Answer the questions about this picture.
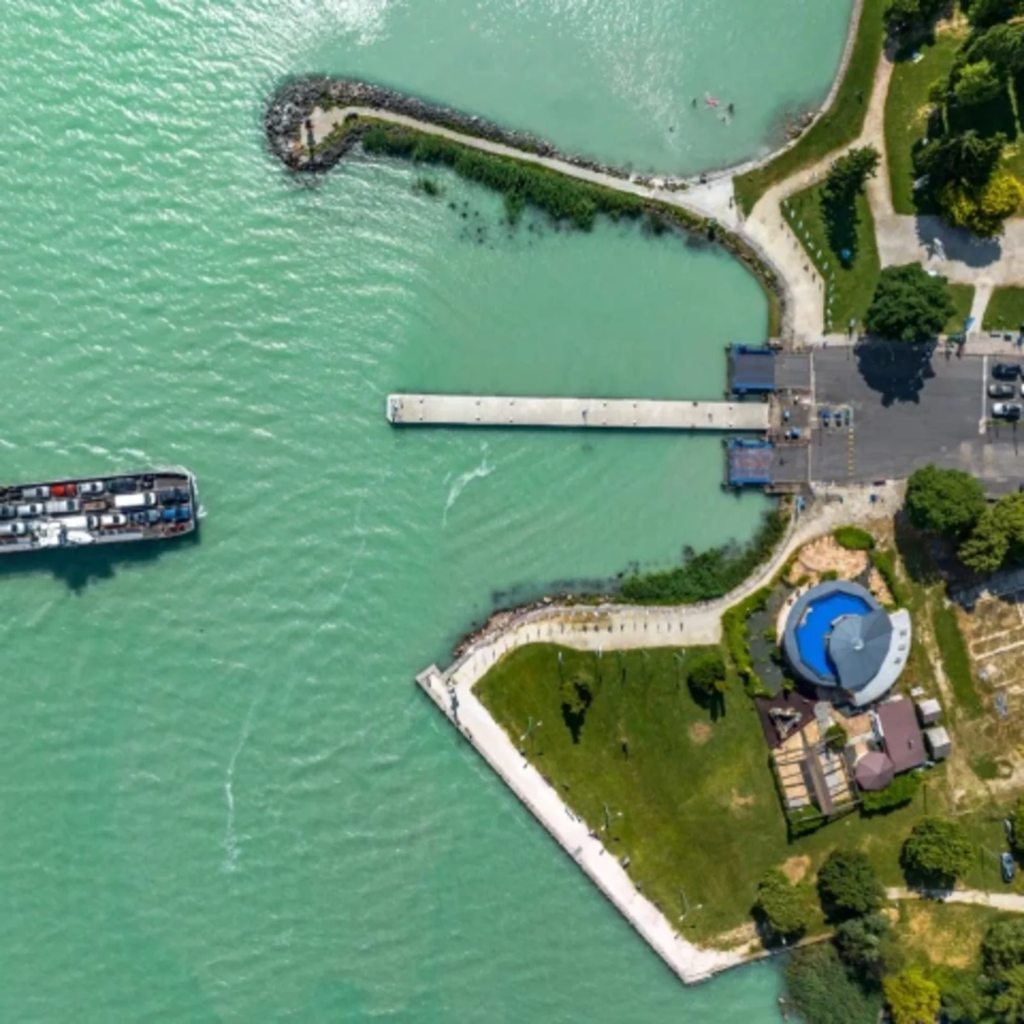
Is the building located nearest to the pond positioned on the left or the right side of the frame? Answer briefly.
right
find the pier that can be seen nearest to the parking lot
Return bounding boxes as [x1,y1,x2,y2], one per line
[387,396,771,430]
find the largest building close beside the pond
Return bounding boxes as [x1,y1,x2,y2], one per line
[780,580,911,703]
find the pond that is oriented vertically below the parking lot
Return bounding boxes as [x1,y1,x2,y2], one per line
[746,577,788,698]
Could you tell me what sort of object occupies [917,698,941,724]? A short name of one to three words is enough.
shed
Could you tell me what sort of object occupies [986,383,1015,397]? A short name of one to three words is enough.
car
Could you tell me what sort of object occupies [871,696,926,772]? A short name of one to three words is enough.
house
